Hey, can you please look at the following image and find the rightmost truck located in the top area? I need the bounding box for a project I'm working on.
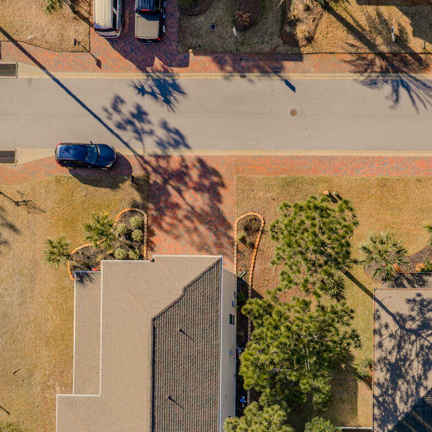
[135,0,165,42]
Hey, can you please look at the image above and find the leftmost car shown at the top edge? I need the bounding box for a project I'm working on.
[93,0,124,38]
